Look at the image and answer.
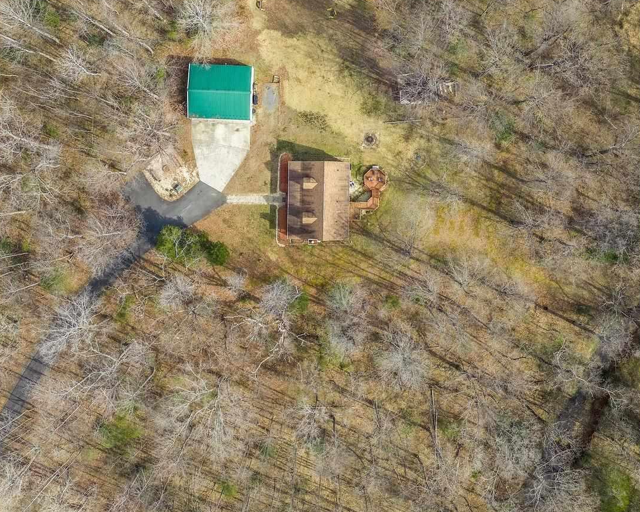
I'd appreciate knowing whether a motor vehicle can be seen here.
No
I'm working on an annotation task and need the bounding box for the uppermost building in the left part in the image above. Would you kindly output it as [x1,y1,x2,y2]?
[186,62,255,121]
